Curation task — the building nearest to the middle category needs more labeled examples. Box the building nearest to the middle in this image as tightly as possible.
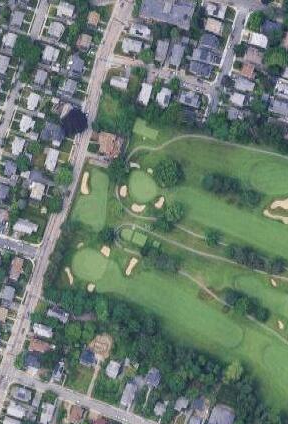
[95,131,124,161]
